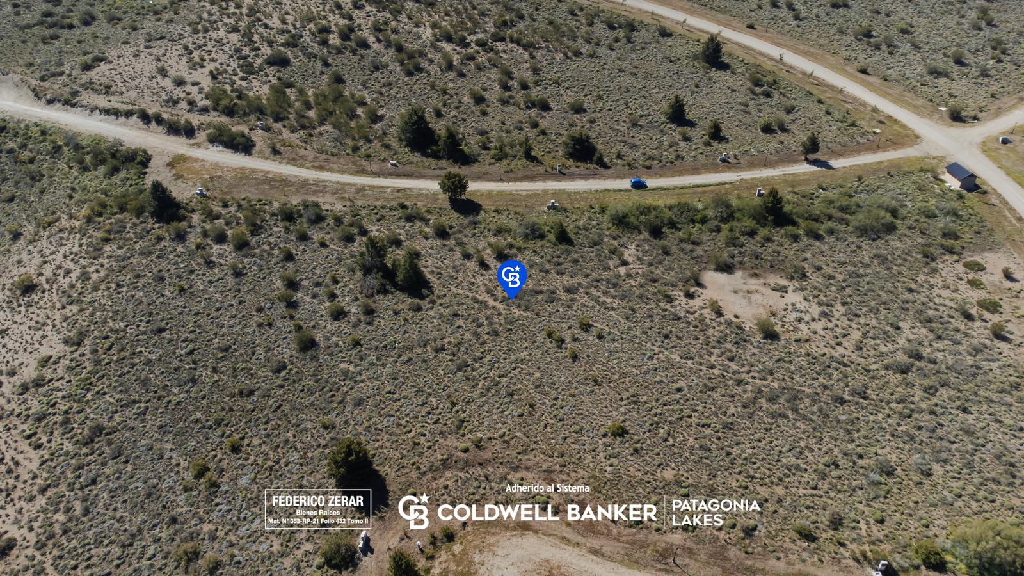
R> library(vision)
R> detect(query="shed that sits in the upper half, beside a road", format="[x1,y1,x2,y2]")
[942,163,981,188]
